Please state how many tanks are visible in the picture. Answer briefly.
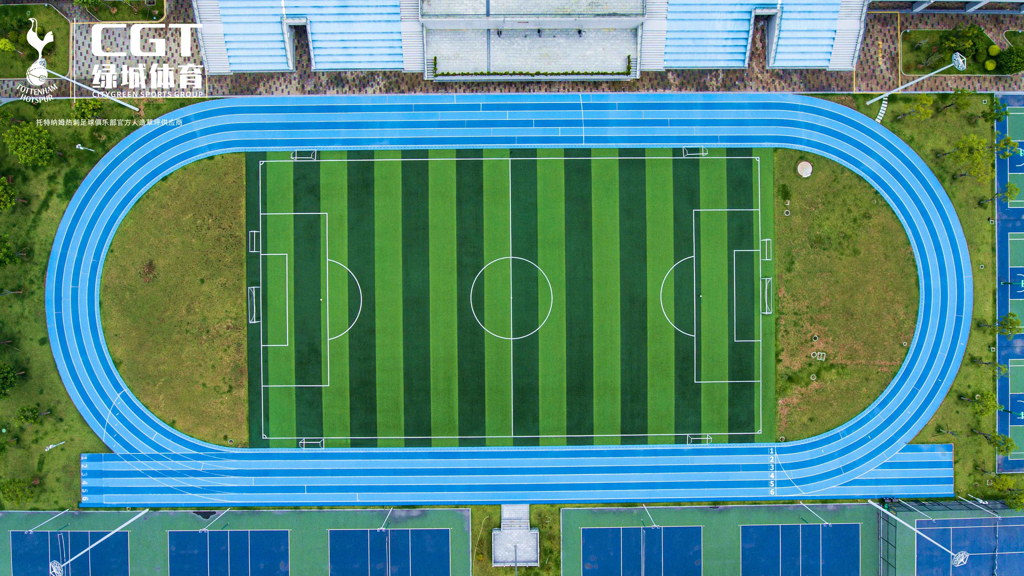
zero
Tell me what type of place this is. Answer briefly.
sports ground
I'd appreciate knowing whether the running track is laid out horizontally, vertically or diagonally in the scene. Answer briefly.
horizontally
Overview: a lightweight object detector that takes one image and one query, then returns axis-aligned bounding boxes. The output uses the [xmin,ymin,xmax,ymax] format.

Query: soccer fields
[245,148,776,447]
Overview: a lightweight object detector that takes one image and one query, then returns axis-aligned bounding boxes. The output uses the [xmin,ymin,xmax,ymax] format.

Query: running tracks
[45,93,974,508]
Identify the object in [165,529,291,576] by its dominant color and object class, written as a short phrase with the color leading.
blue sports court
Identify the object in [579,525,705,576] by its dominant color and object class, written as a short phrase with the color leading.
blue sports court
